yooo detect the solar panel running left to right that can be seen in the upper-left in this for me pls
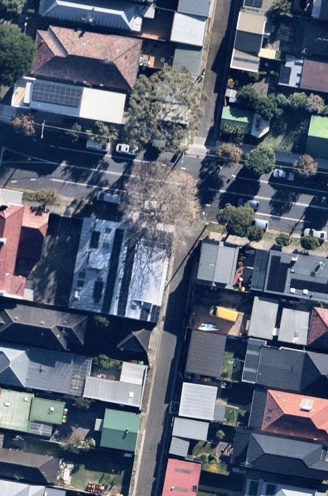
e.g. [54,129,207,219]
[33,81,83,107]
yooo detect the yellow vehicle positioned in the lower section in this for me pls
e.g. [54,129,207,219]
[207,304,243,322]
